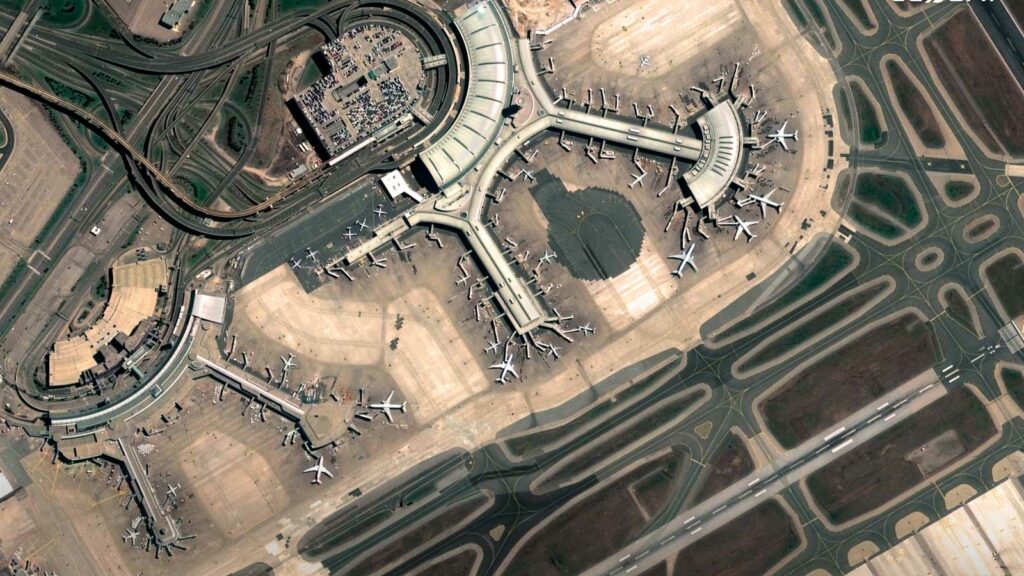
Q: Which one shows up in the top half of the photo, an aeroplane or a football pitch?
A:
aeroplane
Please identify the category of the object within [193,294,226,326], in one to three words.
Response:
building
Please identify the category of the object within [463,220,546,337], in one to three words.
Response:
building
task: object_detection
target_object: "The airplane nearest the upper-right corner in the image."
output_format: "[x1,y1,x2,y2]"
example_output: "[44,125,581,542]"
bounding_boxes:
[766,122,798,150]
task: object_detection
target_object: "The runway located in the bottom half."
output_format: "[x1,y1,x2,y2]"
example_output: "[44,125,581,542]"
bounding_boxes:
[574,367,948,576]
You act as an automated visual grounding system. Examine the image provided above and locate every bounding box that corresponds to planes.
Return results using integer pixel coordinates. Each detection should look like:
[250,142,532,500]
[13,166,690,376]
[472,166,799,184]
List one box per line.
[290,257,301,268]
[527,172,537,180]
[304,456,332,485]
[341,227,358,241]
[282,353,297,370]
[733,215,759,243]
[626,173,646,189]
[668,243,702,279]
[369,389,406,422]
[541,250,557,262]
[167,483,180,495]
[123,531,139,541]
[550,344,560,357]
[484,342,500,352]
[491,354,520,384]
[304,246,320,261]
[456,276,468,286]
[356,217,369,231]
[766,122,798,150]
[579,324,595,334]
[750,188,783,216]
[372,204,389,218]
